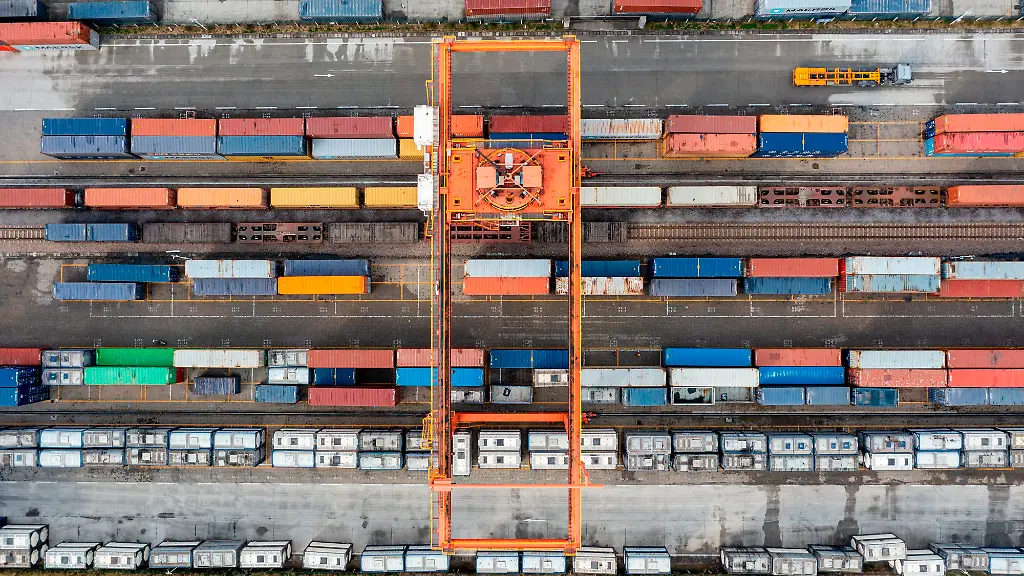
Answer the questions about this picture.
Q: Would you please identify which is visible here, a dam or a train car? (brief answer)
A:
train car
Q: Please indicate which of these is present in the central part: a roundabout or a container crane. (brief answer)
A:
container crane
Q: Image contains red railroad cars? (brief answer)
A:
Yes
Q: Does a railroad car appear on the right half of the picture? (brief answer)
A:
Yes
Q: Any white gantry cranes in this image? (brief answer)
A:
No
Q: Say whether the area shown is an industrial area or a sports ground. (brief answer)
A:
industrial area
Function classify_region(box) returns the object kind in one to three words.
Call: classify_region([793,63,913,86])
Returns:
truck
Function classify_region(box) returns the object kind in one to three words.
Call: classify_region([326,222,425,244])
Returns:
rail car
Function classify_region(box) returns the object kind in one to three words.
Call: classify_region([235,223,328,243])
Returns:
rail car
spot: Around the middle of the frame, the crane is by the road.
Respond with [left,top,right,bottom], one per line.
[414,33,604,556]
